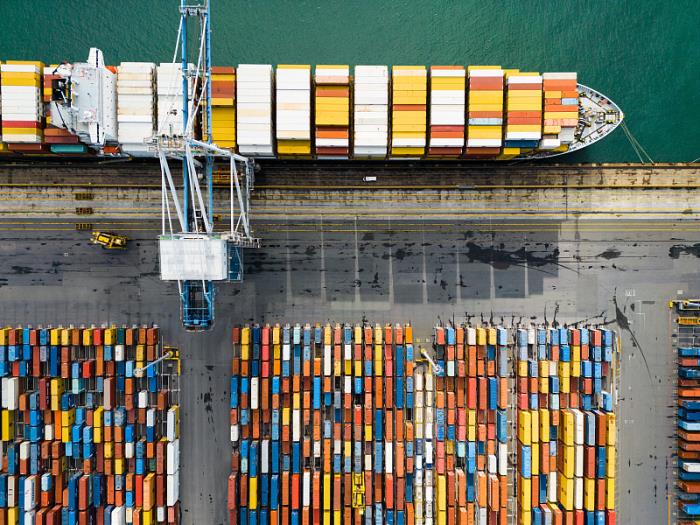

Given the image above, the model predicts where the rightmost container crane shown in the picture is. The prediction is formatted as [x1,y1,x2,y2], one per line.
[145,0,267,329]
